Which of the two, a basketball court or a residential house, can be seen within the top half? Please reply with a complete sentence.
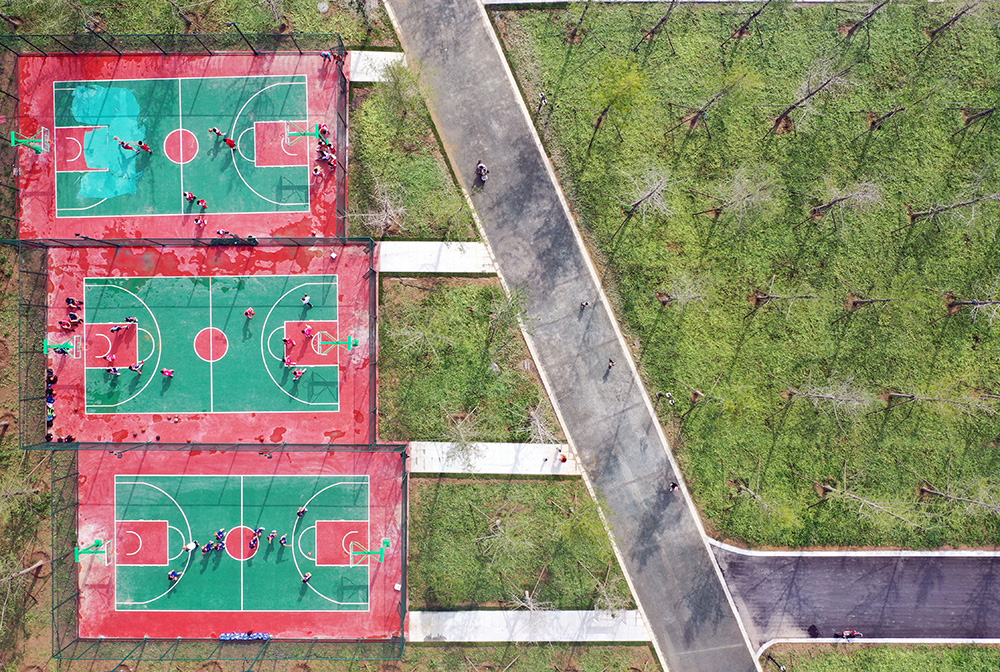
You can see a basketball court within the top half.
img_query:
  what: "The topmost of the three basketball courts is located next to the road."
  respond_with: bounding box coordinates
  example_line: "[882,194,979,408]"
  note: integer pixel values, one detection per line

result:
[19,53,350,246]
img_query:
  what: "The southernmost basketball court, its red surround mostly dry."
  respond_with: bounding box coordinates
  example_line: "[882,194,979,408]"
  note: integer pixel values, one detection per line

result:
[78,443,409,640]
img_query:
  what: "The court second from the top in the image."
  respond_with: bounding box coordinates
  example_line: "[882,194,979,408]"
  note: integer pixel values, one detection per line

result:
[48,246,378,442]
